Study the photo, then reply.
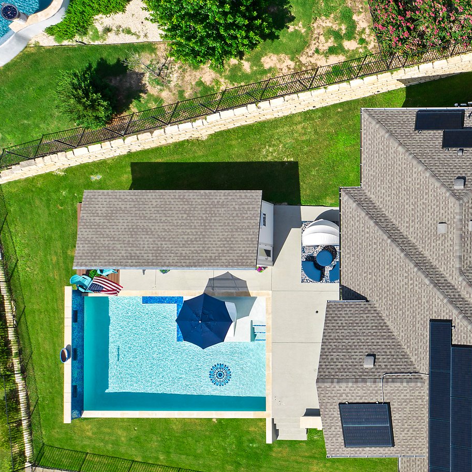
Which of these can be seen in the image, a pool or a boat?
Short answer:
pool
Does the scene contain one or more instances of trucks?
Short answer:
No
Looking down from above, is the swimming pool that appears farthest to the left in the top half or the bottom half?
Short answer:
top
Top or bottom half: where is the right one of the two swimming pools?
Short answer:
bottom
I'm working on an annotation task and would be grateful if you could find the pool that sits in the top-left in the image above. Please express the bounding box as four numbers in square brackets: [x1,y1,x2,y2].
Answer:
[0,0,77,73]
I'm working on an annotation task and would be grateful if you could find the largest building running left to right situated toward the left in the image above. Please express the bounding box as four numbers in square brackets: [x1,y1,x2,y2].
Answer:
[78,190,276,270]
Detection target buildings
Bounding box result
[317,105,472,472]
[78,190,276,270]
